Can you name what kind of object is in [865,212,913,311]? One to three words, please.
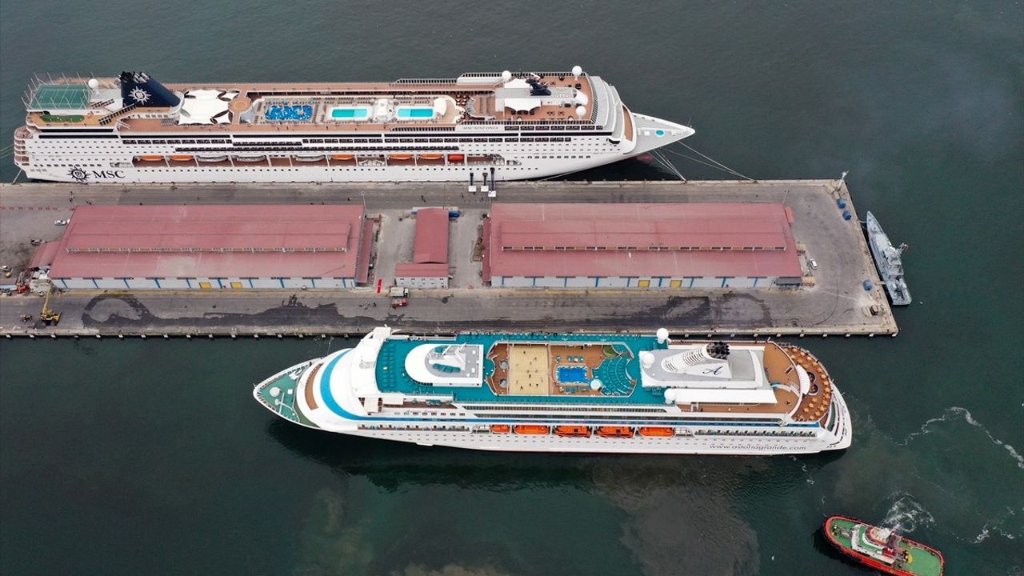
boat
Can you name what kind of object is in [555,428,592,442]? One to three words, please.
boat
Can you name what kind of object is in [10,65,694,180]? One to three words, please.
ship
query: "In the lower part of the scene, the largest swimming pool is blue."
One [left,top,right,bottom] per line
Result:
[555,365,591,386]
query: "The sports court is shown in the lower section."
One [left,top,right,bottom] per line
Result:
[508,350,549,392]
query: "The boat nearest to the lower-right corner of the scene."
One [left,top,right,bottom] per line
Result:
[822,518,941,576]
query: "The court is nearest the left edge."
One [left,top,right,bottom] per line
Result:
[20,72,101,111]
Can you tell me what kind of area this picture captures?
port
